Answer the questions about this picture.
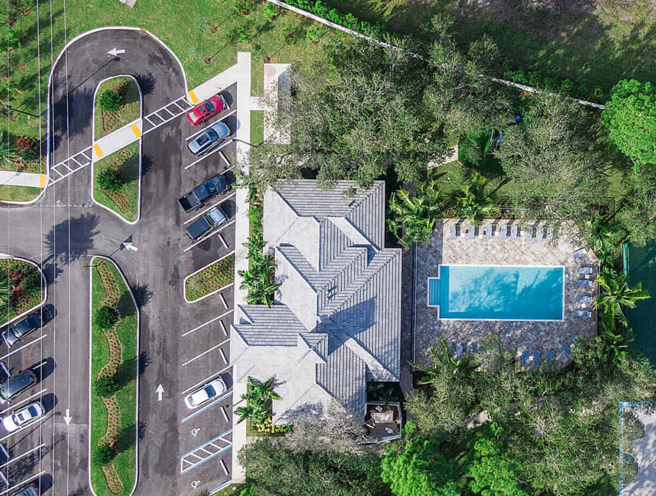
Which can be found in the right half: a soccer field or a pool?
pool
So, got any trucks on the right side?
No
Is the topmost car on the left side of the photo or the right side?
left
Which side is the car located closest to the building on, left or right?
left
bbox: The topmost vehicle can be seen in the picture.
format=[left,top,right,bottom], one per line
[185,95,228,127]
